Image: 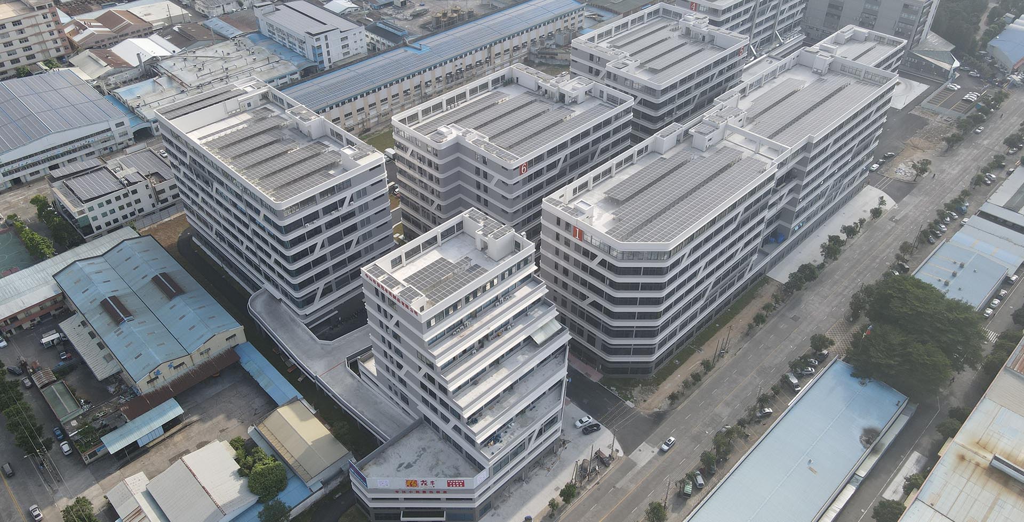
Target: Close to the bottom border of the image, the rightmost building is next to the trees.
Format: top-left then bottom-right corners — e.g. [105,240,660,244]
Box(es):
[893,341,1024,522]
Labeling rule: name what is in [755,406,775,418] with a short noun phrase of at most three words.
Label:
vehicle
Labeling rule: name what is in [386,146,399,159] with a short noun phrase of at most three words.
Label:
vehicle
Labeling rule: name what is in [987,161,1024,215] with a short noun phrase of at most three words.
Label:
building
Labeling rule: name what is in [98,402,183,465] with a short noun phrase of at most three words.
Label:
shed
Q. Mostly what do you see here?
buildings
